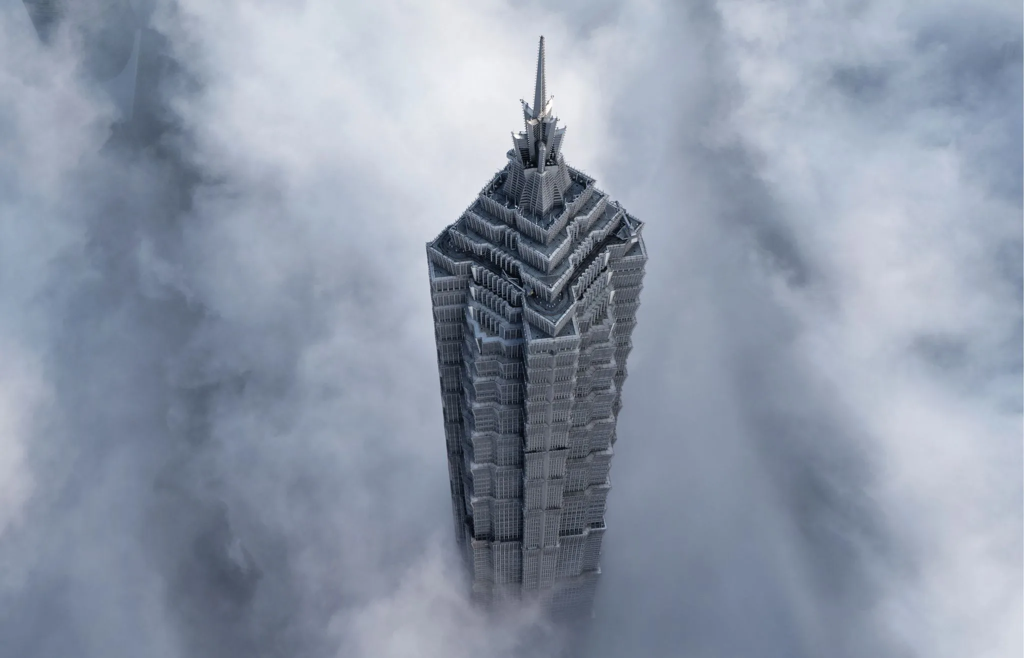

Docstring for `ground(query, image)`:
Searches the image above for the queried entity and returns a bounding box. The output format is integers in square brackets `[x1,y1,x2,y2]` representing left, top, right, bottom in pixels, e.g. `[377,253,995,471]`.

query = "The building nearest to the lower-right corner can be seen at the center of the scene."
[427,33,649,658]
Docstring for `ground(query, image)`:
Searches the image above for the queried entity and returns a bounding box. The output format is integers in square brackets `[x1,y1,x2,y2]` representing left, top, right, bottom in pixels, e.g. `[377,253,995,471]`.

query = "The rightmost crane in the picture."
[612,187,644,247]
